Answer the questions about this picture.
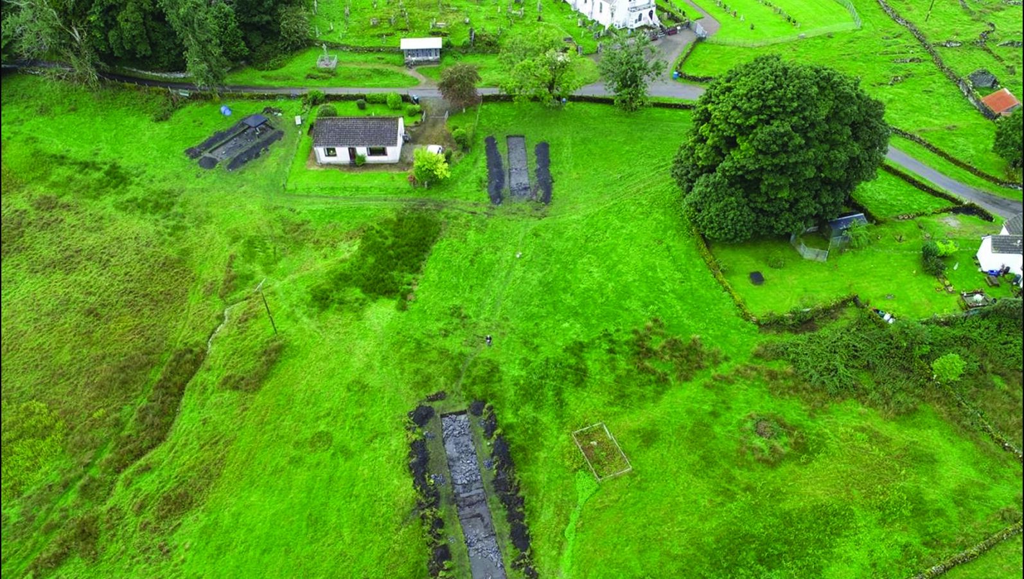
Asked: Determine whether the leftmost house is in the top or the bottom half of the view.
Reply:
top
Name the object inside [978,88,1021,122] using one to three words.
shed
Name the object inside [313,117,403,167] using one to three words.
house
